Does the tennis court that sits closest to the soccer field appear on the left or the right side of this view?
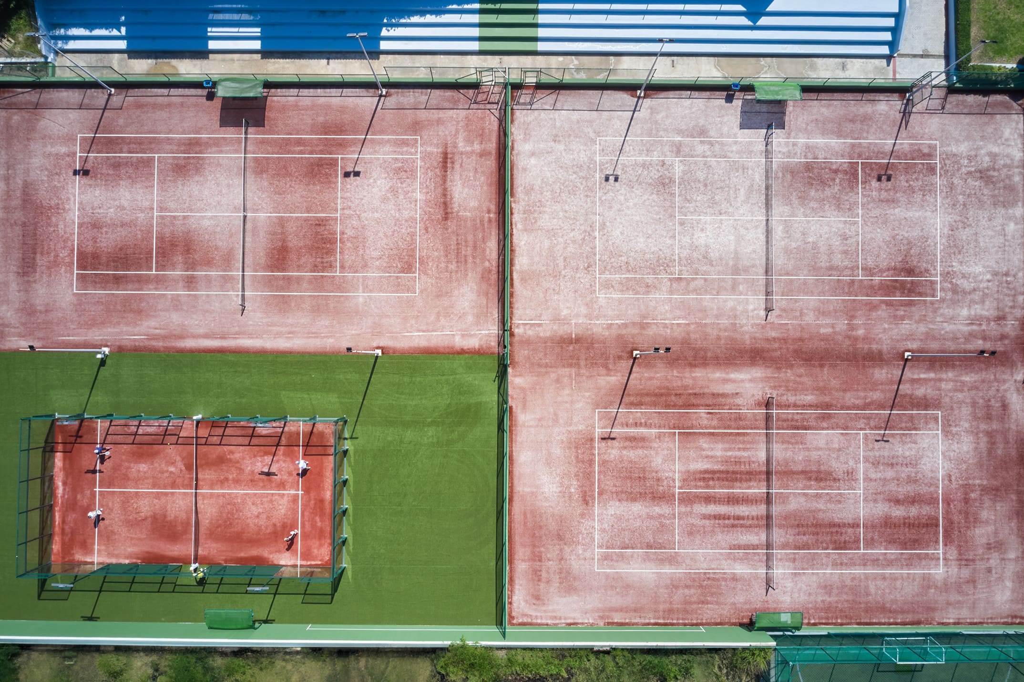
right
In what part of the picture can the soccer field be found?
bottom right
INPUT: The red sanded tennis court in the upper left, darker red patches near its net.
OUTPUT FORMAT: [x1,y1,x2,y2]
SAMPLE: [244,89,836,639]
[0,82,506,355]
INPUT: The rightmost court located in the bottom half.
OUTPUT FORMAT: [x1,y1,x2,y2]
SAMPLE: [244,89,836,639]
[504,344,1024,627]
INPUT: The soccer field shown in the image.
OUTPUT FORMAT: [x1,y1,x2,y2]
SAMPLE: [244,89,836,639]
[776,634,1024,682]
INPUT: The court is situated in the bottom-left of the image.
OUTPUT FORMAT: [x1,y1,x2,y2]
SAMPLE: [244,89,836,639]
[14,410,354,595]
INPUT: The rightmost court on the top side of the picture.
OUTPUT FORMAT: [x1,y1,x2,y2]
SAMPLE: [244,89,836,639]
[505,86,1024,347]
